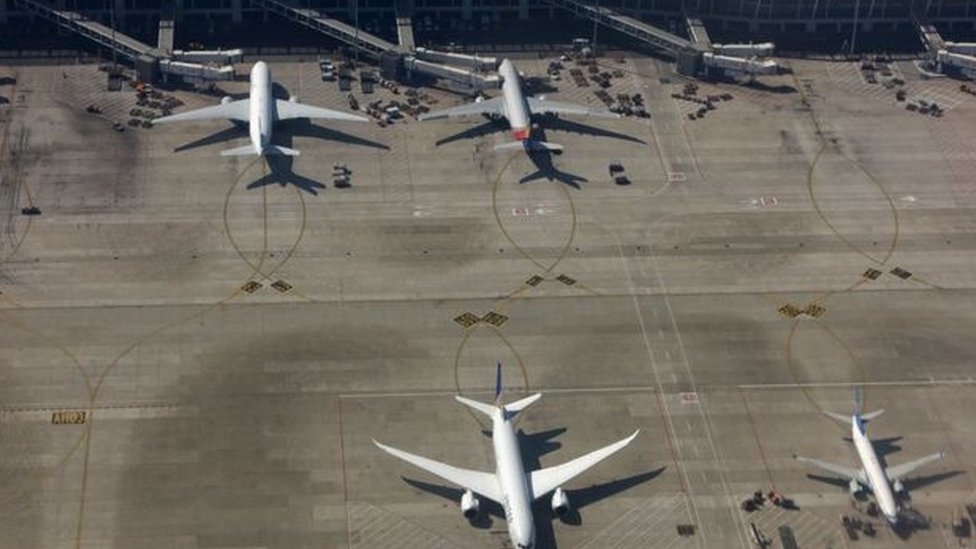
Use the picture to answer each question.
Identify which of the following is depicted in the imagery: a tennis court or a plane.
plane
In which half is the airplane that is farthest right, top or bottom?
bottom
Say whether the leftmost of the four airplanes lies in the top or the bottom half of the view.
top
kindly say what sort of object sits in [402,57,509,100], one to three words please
jet bridge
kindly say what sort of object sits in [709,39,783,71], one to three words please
jet bridge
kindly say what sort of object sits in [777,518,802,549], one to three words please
work vehicle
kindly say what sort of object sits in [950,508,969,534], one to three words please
vehicle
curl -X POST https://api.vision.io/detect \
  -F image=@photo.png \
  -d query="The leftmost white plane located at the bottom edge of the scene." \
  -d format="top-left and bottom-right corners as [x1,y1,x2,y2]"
[375,357,640,549]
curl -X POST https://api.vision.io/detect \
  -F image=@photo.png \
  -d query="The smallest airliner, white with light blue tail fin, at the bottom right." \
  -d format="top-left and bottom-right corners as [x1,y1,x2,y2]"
[789,386,945,524]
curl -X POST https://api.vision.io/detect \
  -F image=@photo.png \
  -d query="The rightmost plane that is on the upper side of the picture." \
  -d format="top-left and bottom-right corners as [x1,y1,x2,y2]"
[415,60,622,152]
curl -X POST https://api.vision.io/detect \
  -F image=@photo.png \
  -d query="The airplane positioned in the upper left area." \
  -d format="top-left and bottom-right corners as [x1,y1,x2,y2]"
[152,60,369,157]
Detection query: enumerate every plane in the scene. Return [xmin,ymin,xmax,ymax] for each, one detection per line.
[152,60,369,157]
[789,386,945,524]
[415,60,622,152]
[375,357,640,549]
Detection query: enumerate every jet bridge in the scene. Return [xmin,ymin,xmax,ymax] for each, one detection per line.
[933,49,976,77]
[697,54,790,92]
[411,46,504,75]
[170,44,250,68]
[709,39,783,71]
[402,57,509,100]
[155,61,243,97]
